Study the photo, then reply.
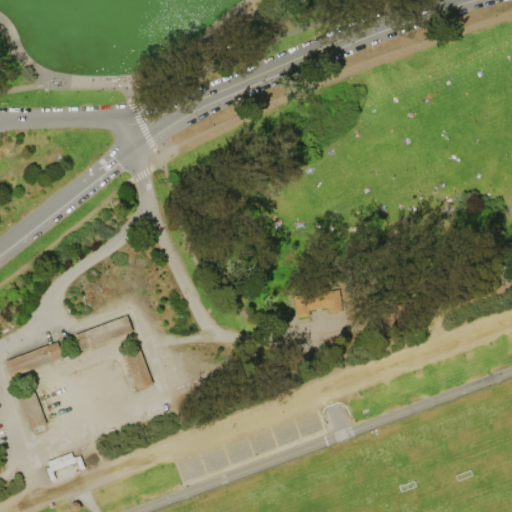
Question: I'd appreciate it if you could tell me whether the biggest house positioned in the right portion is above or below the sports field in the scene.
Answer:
above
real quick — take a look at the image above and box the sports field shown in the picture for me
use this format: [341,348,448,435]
[155,378,512,512]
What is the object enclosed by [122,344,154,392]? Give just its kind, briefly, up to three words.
building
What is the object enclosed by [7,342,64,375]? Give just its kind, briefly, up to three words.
building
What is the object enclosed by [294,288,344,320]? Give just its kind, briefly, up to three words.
house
